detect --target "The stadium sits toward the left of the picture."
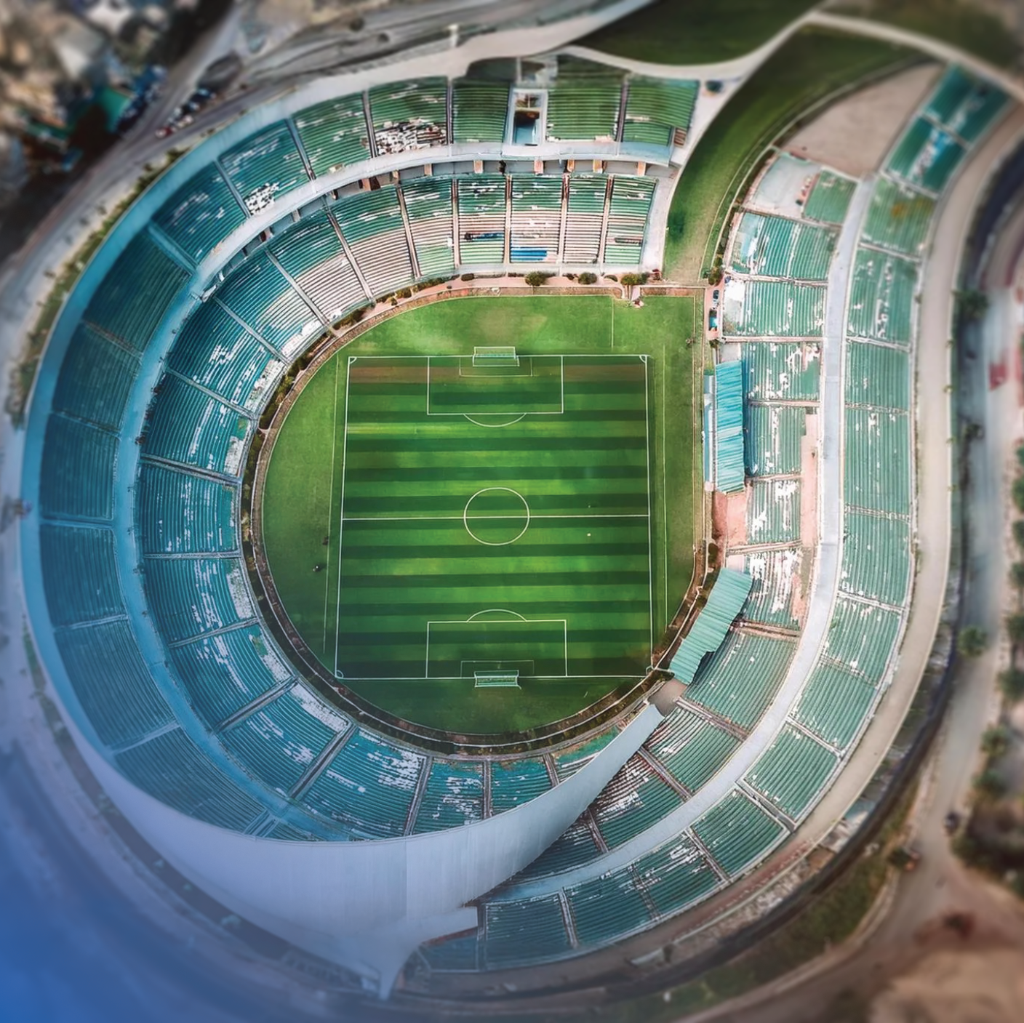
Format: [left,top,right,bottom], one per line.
[18,56,702,843]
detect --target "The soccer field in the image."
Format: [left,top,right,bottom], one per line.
[323,295,666,679]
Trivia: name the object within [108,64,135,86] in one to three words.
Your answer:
house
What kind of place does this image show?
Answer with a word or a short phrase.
sports ground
